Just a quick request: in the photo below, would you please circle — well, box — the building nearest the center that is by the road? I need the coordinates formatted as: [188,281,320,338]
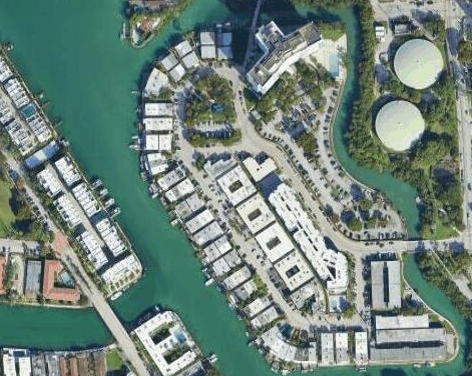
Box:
[217,166,257,206]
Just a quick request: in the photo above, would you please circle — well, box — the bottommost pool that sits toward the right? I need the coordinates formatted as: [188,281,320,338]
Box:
[279,320,297,339]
